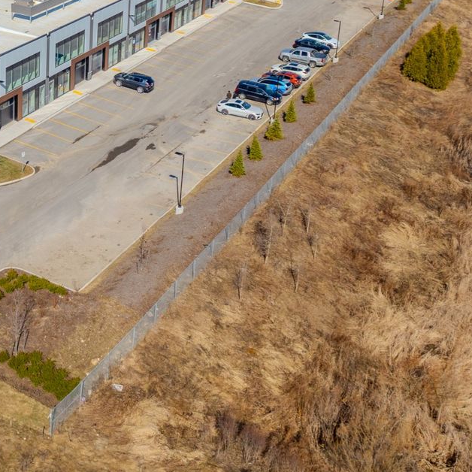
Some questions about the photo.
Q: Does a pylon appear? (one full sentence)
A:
No, no pylon can be seen from above.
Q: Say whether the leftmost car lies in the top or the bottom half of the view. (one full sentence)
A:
The leftmost car sits in the top half of the picture.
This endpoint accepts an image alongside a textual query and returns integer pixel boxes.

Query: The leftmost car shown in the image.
[113,72,157,93]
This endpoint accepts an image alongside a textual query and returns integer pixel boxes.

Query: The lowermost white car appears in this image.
[218,96,268,120]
